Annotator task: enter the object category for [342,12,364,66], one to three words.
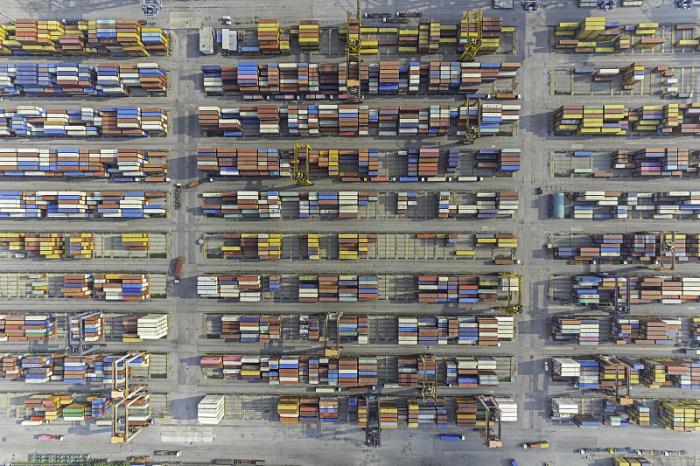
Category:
container crane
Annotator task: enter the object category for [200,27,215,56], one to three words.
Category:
building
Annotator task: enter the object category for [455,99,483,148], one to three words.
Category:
container crane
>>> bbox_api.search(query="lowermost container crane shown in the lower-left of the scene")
[111,392,146,446]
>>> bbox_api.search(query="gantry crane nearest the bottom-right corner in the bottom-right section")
[594,354,632,407]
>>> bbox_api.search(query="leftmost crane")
[68,309,105,357]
